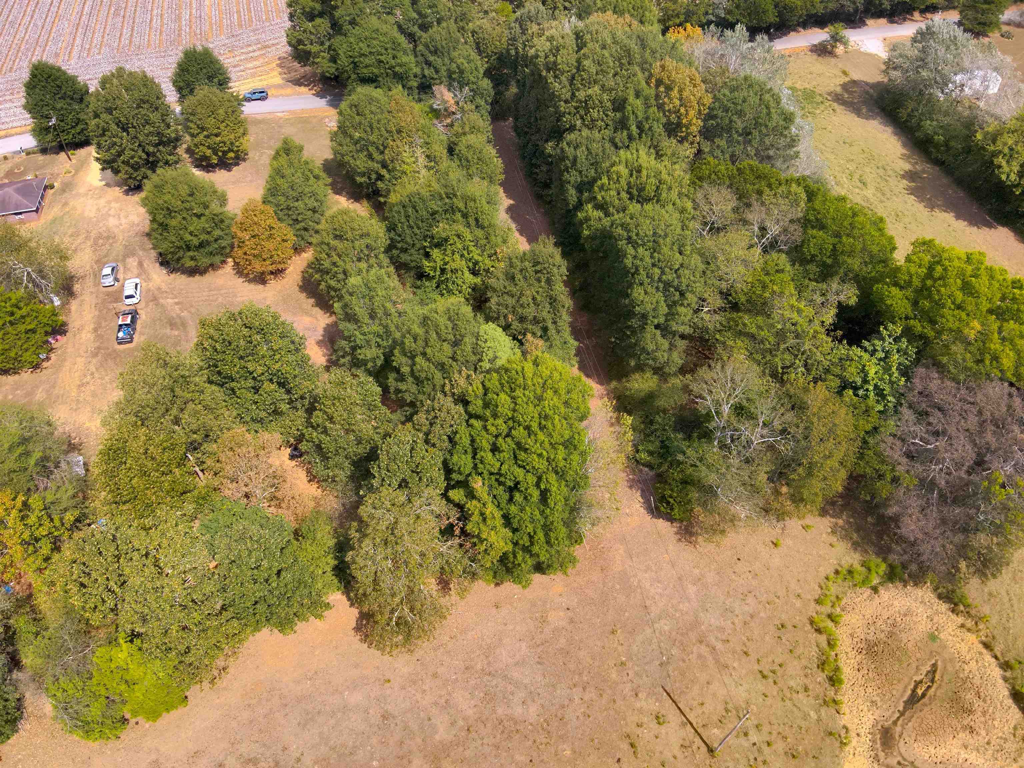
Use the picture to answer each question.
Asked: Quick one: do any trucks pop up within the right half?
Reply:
No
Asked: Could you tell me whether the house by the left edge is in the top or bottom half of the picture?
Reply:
top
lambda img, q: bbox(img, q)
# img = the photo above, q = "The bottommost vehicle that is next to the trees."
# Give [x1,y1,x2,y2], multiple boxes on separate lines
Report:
[114,311,142,347]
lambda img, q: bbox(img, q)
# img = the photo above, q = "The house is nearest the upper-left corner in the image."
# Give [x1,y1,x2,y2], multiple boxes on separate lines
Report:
[0,177,51,232]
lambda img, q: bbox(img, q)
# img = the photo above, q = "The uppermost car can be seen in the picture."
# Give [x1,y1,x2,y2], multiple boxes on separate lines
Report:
[242,87,268,102]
